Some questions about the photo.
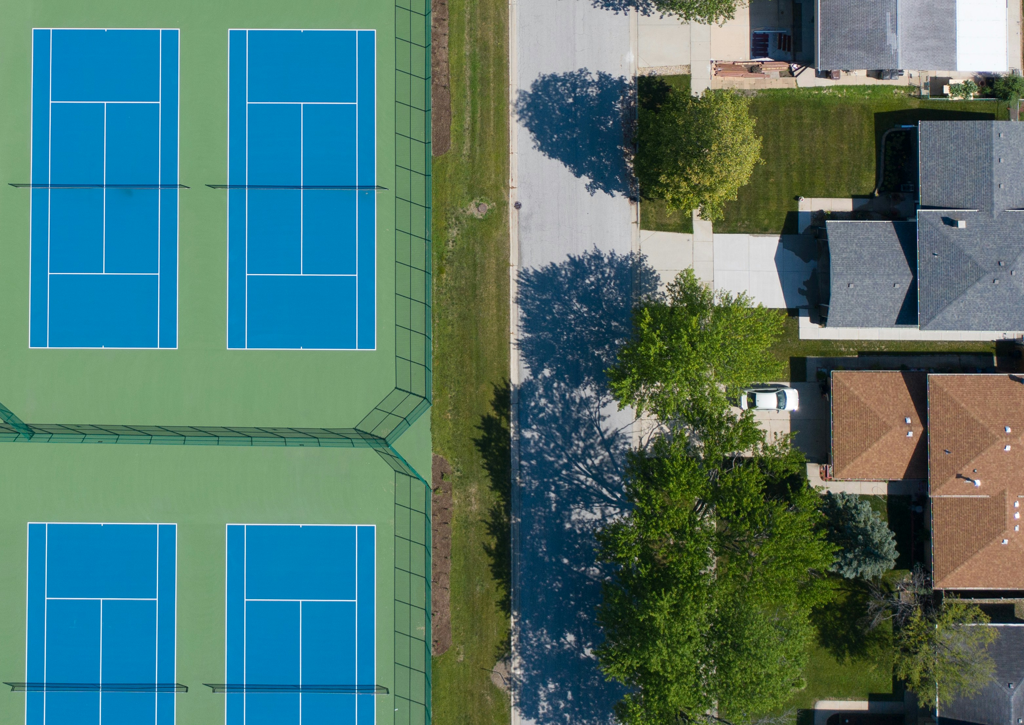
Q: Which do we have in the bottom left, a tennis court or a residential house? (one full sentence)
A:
Looking in the bottom left, you will find a tennis court.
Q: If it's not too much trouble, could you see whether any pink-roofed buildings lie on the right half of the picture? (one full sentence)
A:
No, there's no pink-roofed building to be seen on the right half of the picture.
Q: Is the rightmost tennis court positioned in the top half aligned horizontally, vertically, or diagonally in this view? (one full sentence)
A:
What the image shows is the rightmost tennis court positioned in the top half lying vertically.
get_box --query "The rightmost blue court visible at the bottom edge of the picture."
[225,524,376,725]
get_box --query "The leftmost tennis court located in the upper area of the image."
[29,28,180,349]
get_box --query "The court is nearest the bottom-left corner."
[25,523,177,725]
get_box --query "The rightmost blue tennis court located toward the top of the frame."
[227,28,376,350]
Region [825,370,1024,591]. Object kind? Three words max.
house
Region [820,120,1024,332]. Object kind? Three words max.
house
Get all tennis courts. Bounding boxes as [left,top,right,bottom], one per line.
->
[25,523,177,725]
[29,28,180,349]
[227,28,376,350]
[225,524,376,725]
